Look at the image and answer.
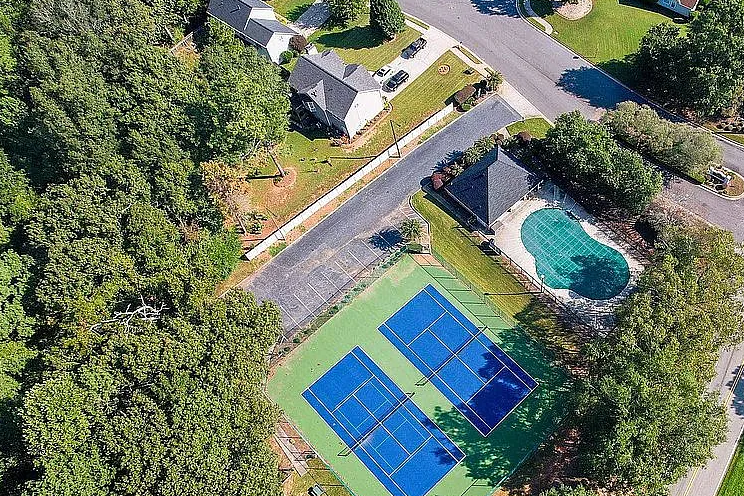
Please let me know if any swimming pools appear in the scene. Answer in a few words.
Yes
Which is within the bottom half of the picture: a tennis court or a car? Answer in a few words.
tennis court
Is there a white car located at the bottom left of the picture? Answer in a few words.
No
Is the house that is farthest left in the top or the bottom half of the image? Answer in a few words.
top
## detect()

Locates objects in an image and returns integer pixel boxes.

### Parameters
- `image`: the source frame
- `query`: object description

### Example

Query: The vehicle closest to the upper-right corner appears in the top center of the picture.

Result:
[399,35,428,57]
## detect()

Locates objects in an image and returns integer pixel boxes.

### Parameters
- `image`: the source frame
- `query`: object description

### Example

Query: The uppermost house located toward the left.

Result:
[206,0,298,64]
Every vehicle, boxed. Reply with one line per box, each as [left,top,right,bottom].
[382,68,409,90]
[399,35,428,57]
[372,62,394,81]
